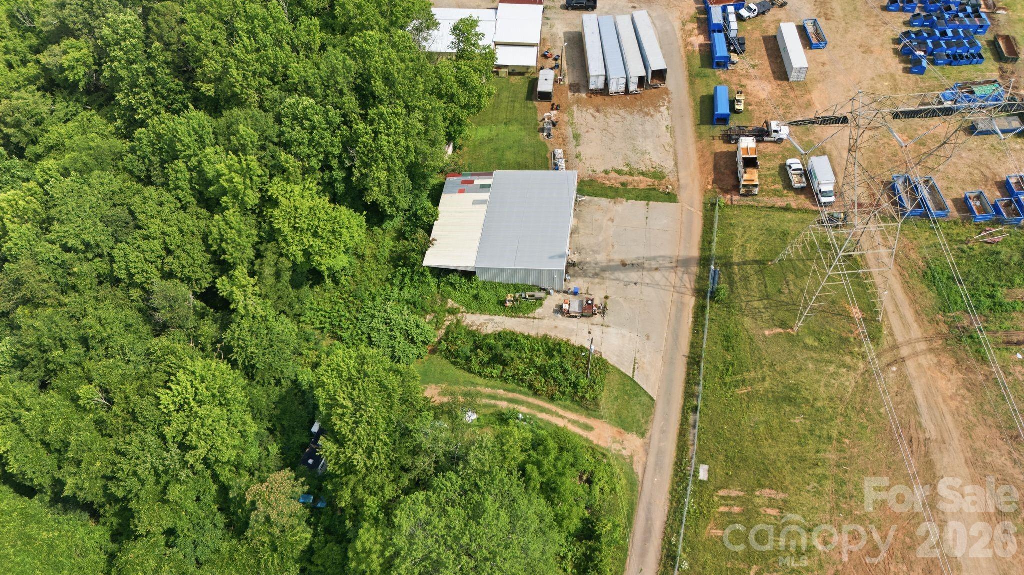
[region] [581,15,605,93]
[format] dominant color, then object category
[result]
white trailer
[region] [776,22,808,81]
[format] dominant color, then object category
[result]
white shipping container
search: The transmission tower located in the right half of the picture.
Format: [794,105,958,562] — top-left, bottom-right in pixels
[770,77,1024,332]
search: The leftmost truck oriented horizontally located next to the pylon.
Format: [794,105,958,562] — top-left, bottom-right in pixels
[724,120,791,142]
